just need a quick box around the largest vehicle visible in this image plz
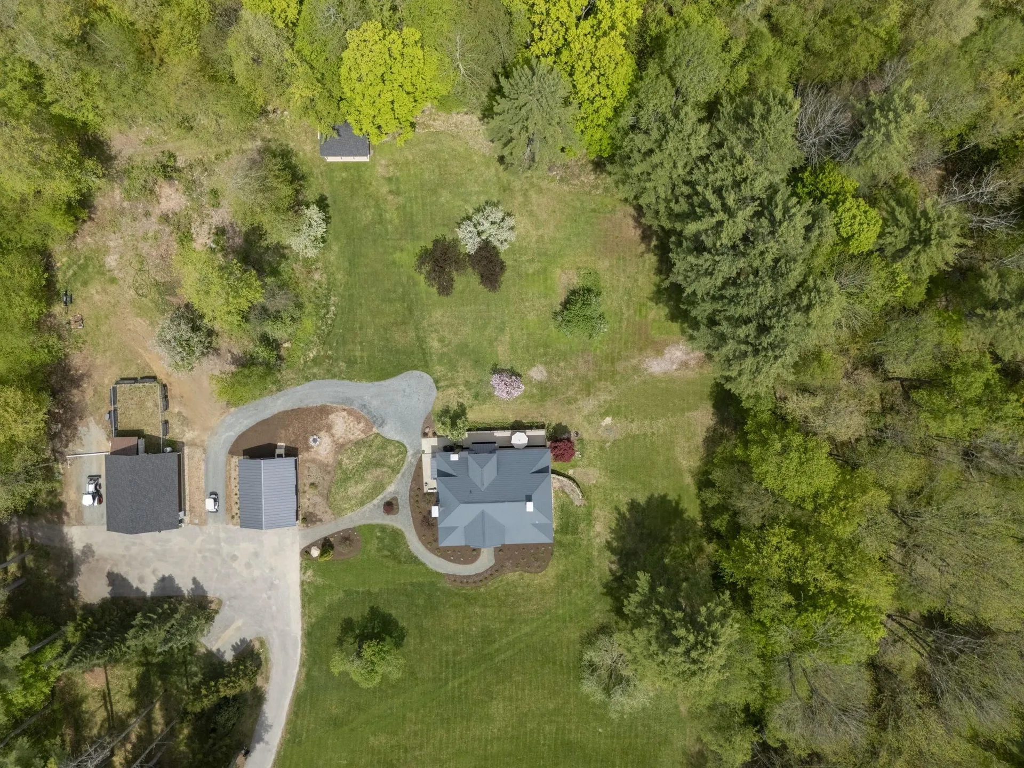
[81,473,103,505]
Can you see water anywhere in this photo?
No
